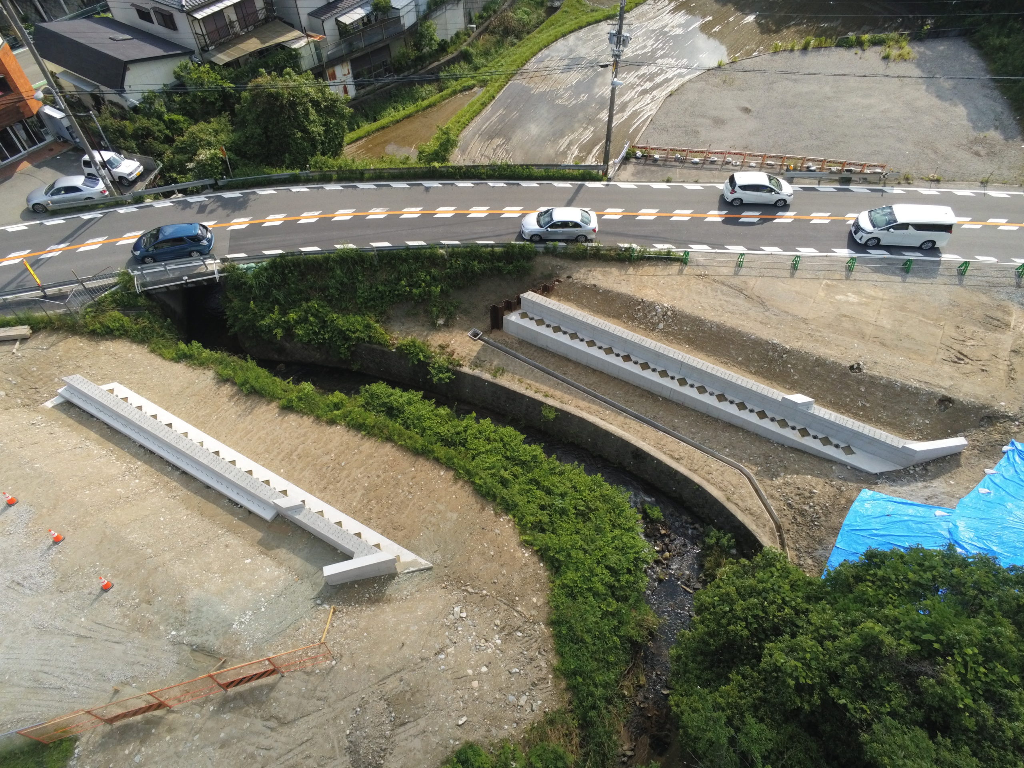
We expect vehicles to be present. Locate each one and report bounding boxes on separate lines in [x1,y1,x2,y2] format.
[521,208,599,244]
[723,171,797,207]
[19,170,103,212]
[130,223,213,263]
[851,203,956,250]
[81,143,142,185]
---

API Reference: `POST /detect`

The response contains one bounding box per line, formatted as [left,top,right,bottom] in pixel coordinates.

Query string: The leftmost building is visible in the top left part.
[0,43,55,165]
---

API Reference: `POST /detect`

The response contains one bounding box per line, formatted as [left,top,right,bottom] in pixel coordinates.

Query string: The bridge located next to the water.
[136,262,238,351]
